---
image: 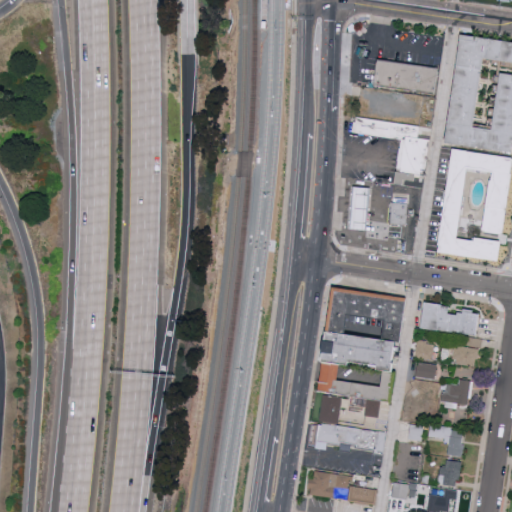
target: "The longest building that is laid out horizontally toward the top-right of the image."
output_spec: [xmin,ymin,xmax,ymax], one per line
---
[374,60,438,97]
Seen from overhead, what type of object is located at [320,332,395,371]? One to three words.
building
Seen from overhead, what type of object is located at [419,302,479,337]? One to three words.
house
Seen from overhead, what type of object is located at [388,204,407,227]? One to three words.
building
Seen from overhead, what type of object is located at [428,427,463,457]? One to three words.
house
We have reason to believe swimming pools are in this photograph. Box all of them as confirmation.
[470,179,486,208]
